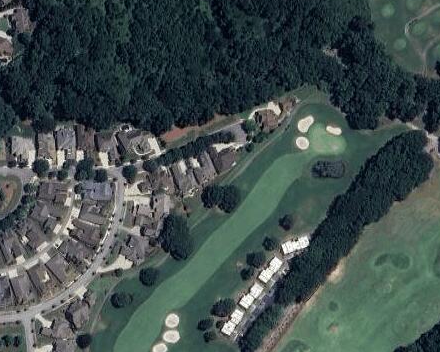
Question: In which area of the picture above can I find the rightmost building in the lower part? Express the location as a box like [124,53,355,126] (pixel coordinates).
[281,234,310,253]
